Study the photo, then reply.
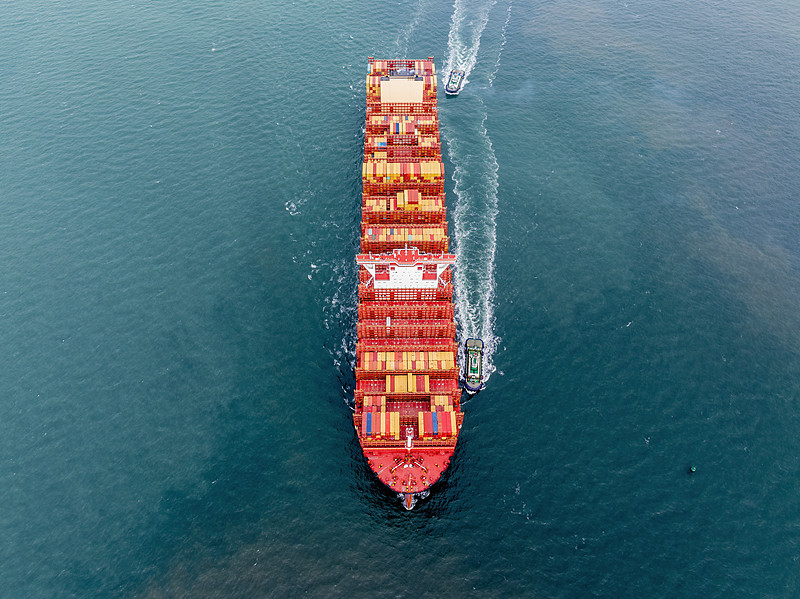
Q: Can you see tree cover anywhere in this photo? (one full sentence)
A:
No, there's no tree cover in this view.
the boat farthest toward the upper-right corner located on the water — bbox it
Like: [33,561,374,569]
[448,70,464,94]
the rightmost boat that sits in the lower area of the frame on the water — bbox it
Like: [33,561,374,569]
[464,339,485,390]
